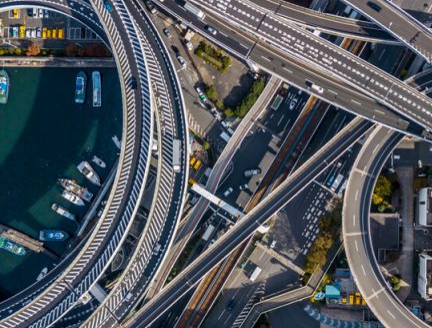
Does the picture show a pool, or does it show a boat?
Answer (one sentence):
I can see a boat in this picture.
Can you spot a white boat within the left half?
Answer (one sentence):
Yes, I can see a white boat within the left half.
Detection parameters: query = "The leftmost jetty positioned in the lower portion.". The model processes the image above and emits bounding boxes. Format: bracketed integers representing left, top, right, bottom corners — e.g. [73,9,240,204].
[2,229,45,251]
